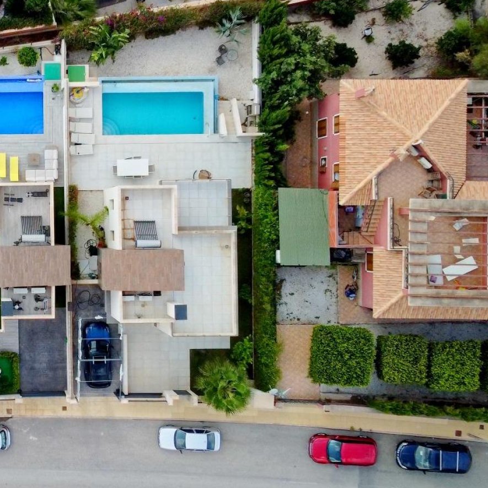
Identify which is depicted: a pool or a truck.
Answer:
pool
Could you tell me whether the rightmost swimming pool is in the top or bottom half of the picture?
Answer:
top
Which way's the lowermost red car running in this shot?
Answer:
horizontally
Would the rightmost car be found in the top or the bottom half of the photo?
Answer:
bottom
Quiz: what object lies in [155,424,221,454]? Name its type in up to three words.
car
